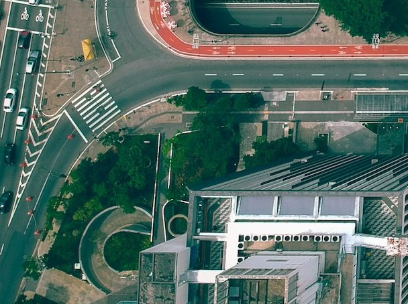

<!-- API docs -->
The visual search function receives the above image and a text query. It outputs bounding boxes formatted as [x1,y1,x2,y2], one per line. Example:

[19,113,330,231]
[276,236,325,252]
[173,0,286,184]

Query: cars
[0,185,20,219]
[15,24,37,53]
[24,47,46,78]
[26,0,44,11]
[1,82,24,117]
[13,104,35,134]
[1,138,21,168]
